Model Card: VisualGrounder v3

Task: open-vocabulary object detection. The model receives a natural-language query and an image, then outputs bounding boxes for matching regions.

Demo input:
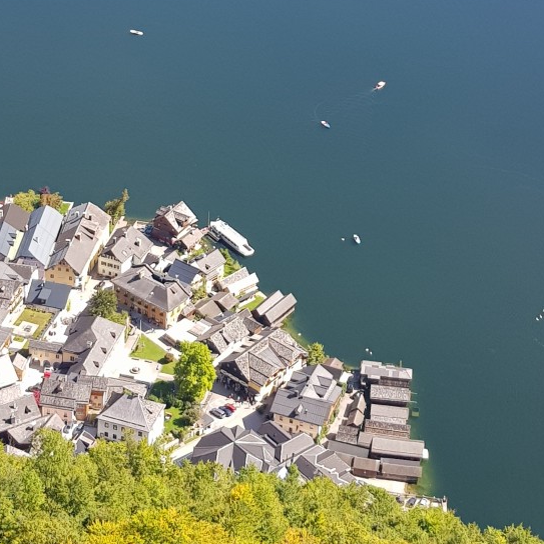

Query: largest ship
[208,214,253,257]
